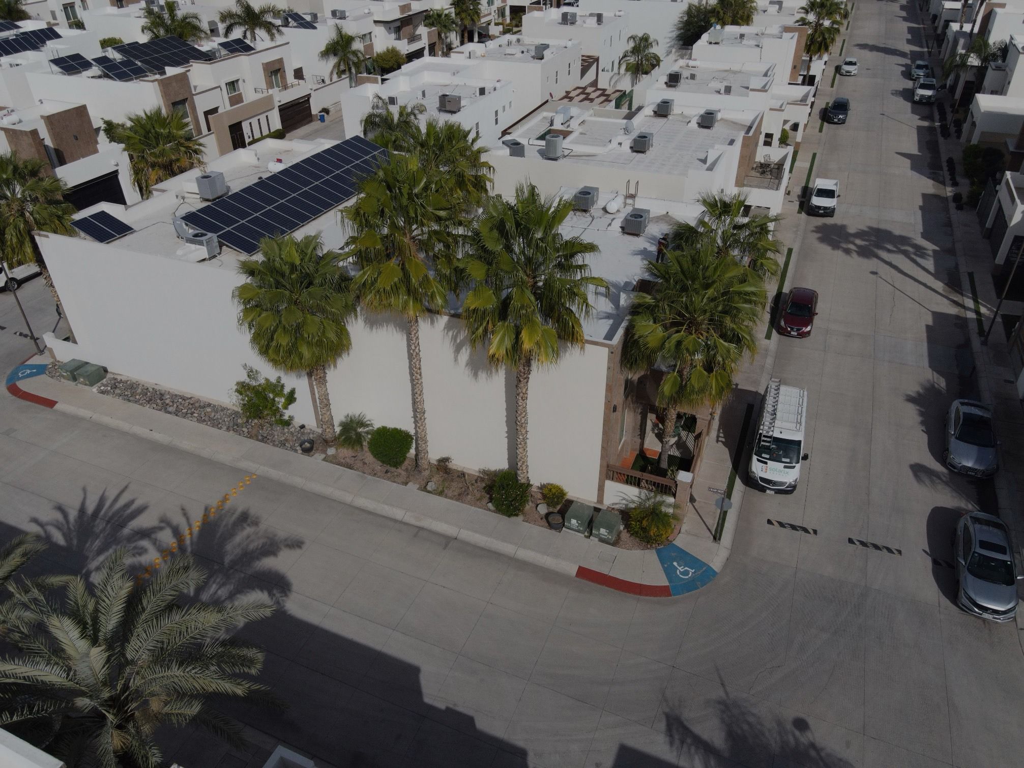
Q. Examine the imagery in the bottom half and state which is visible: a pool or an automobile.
automobile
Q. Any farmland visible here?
No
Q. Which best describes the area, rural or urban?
urban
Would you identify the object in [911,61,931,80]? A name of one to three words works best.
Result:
car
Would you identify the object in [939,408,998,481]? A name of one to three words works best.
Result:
car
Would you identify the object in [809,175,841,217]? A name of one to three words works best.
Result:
truck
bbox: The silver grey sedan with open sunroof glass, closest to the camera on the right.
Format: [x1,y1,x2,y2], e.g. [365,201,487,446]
[957,522,1024,627]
